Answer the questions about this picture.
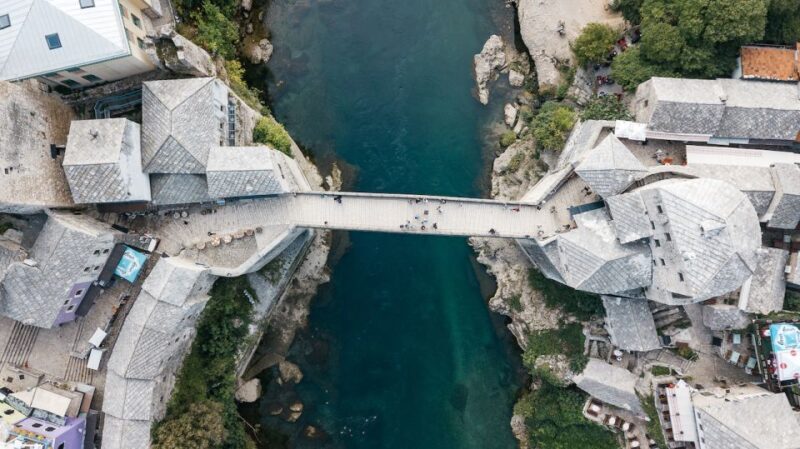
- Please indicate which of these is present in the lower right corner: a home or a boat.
home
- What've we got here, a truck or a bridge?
bridge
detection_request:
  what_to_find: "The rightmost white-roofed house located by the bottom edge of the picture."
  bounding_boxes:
[685,382,800,449]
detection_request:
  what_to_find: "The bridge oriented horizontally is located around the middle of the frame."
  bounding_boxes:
[293,192,539,238]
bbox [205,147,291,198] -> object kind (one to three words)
house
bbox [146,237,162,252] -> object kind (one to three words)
umbrella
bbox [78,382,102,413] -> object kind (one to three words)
shed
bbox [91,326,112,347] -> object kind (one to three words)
umbrella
